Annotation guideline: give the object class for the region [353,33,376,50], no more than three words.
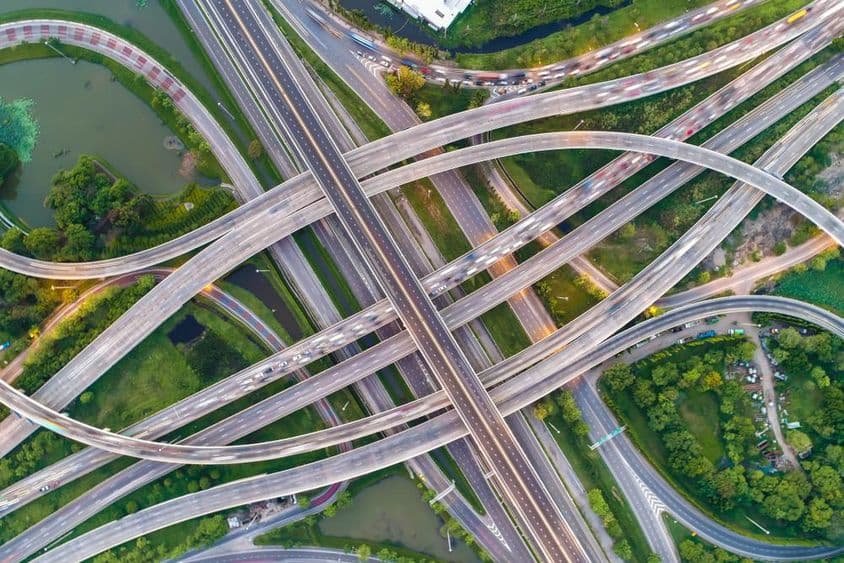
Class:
vehicle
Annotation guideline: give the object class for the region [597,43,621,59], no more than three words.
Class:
vehicle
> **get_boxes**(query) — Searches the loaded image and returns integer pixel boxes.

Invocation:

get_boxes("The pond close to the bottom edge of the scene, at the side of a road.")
[316,474,487,563]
